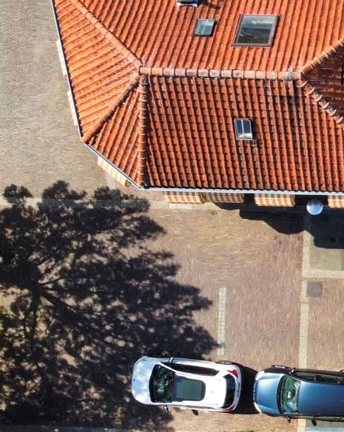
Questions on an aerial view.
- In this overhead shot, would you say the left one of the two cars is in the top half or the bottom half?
bottom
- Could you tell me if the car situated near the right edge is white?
No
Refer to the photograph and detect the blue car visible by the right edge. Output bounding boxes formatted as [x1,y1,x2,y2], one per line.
[252,363,344,422]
